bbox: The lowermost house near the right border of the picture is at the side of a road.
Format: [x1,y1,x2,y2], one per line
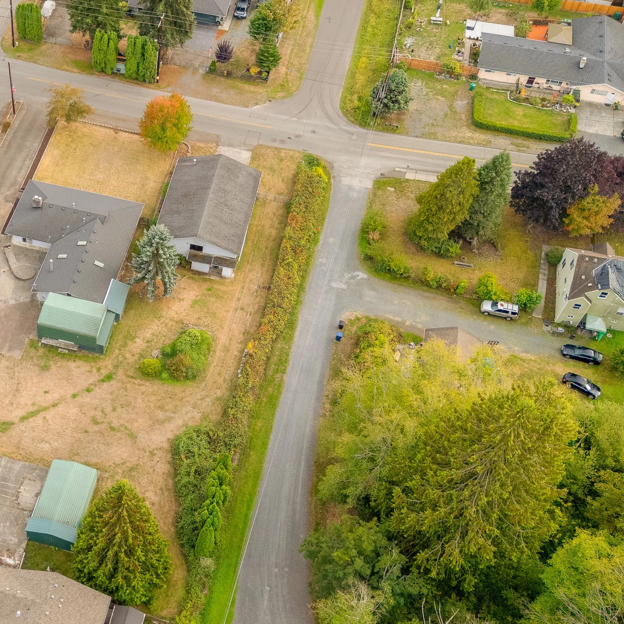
[552,247,624,335]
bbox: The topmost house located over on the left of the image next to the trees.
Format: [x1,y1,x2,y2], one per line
[180,0,230,28]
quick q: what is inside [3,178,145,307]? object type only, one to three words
house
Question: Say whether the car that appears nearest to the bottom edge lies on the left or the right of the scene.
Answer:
right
